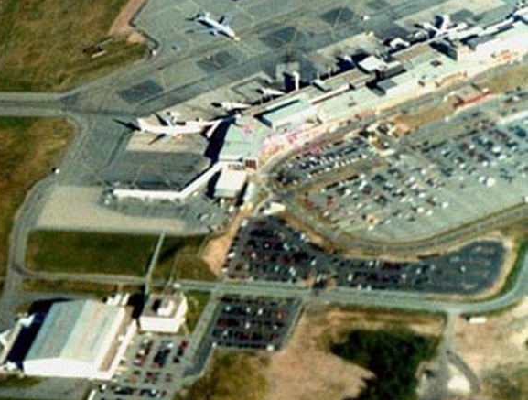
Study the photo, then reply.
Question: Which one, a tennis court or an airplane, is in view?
airplane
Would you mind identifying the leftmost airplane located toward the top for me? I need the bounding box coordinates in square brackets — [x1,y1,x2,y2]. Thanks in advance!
[142,114,202,141]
